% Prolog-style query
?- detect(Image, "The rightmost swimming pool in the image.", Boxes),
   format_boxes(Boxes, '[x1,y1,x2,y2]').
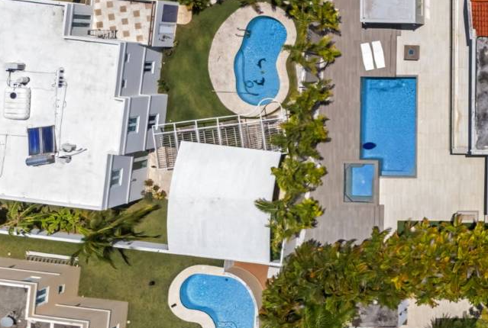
[359,76,418,178]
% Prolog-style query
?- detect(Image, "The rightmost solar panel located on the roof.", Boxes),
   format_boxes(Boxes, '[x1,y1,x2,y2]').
[161,5,180,23]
